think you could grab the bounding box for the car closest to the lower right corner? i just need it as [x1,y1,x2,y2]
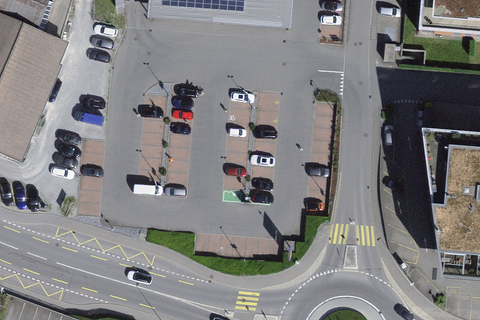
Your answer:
[393,304,415,320]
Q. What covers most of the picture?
paved ground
